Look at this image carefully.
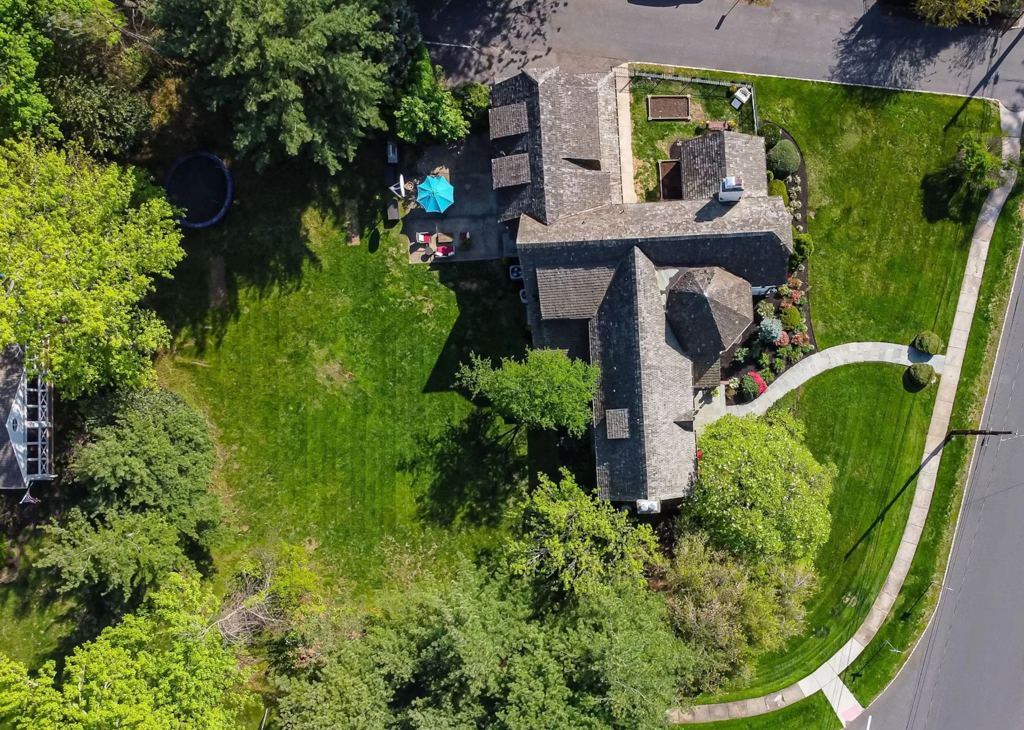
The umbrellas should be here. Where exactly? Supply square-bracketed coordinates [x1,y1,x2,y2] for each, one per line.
[416,176,454,213]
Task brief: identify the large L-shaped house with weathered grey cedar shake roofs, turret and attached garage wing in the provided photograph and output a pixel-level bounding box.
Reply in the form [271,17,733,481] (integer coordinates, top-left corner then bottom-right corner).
[488,63,793,513]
